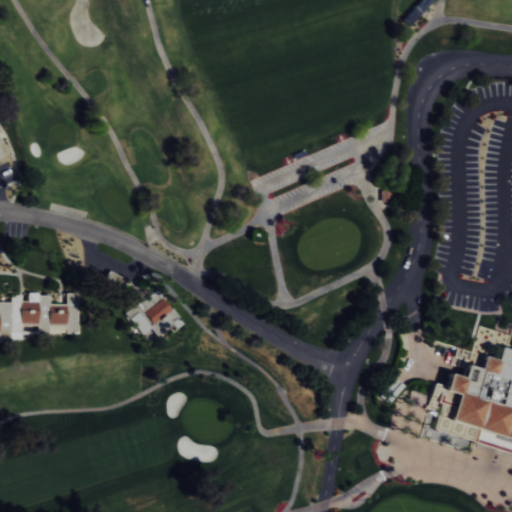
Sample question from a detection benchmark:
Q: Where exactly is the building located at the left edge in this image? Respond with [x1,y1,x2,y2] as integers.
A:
[0,293,80,342]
